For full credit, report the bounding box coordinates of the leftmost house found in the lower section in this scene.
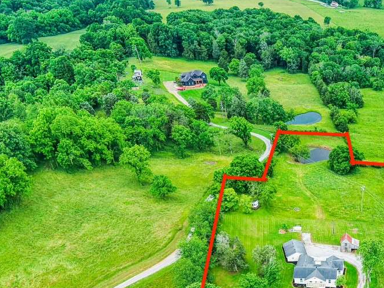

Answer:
[283,237,346,288]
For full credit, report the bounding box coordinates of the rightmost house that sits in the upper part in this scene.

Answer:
[176,72,209,89]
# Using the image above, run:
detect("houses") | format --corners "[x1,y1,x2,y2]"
[176,72,209,89]
[283,237,346,288]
